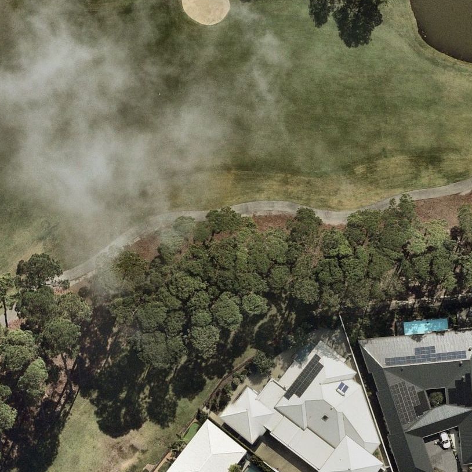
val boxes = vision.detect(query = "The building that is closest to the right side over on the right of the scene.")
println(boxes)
[358,334,472,472]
